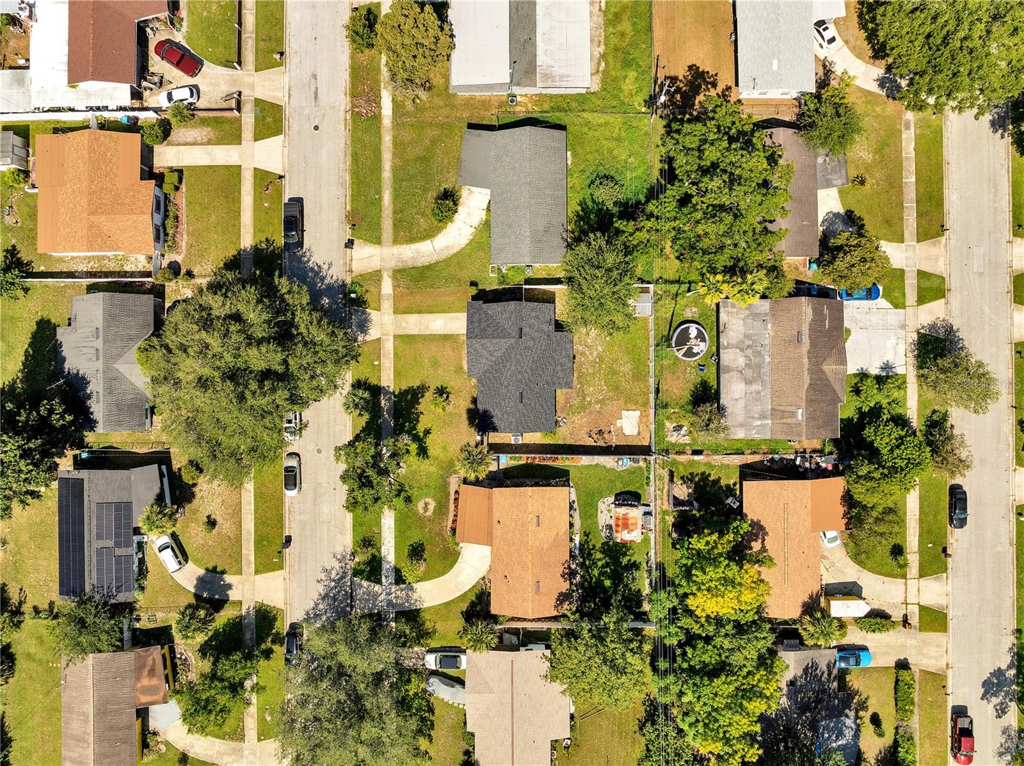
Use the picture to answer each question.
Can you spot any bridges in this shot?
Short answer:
No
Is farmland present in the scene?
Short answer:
No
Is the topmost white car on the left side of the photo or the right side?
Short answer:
right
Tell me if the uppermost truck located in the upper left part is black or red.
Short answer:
red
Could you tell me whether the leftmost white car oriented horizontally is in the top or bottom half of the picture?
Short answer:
top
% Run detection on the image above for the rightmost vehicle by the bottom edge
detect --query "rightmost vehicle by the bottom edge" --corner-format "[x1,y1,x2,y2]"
[948,713,975,765]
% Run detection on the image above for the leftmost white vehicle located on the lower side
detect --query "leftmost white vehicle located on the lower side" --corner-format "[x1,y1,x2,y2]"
[153,530,190,575]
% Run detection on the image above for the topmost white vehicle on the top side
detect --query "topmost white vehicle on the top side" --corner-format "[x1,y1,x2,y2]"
[815,18,841,59]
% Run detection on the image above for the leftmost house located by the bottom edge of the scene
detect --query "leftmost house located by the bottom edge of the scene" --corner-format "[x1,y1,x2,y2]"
[62,618,174,766]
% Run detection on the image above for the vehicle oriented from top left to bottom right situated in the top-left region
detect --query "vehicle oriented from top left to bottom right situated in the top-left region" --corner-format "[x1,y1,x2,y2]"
[154,39,209,82]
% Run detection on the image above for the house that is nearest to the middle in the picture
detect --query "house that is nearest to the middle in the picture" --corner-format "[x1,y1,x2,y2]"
[467,302,574,434]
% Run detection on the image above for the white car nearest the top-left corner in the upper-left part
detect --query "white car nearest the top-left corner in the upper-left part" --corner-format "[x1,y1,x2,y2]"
[159,85,202,106]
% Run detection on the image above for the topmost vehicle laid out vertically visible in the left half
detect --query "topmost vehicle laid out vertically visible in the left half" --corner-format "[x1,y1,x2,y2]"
[281,202,304,252]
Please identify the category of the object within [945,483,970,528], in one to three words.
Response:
car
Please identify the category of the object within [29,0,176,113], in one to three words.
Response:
house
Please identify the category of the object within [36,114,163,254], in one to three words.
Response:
house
